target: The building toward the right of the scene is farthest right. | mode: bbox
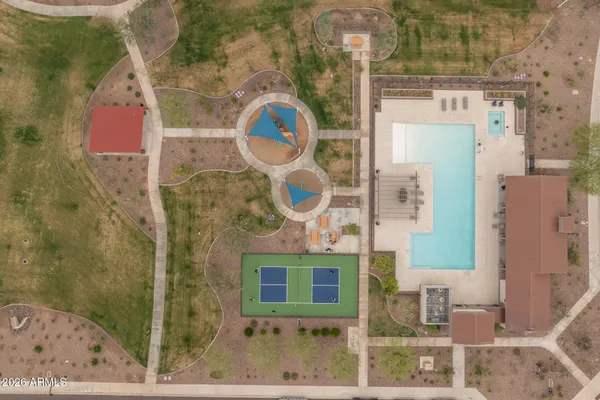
[500,176,574,331]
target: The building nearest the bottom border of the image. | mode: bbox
[452,305,504,346]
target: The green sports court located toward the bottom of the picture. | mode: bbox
[241,253,359,317]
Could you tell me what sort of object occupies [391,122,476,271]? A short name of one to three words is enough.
swimming pool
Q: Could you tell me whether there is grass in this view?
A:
Yes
